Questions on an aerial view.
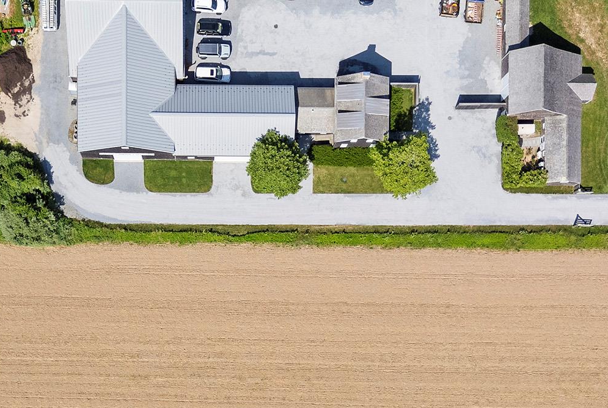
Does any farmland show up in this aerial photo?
Yes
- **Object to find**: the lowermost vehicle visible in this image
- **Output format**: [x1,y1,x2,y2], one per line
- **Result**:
[194,65,231,84]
